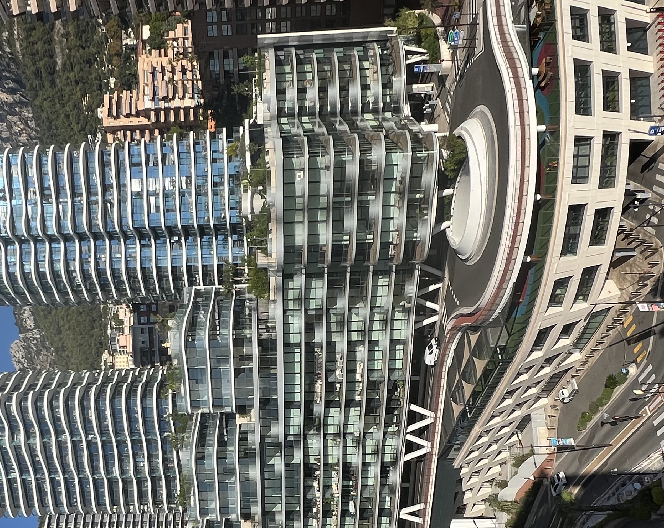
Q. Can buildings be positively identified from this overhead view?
Yes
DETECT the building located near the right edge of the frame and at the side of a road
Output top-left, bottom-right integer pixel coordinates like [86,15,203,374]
[454,0,654,471]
